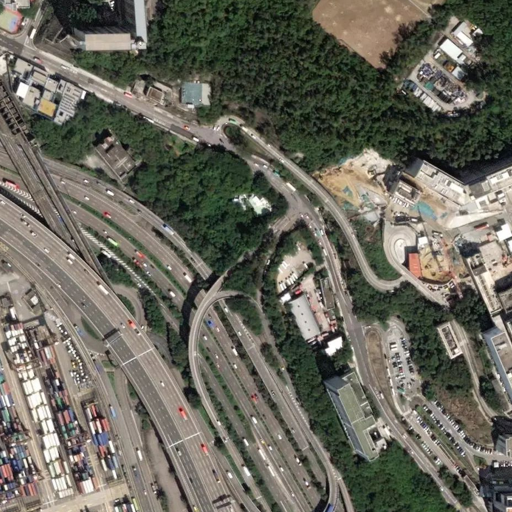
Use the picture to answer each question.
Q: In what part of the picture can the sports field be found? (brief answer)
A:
top right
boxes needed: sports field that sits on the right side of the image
[312,0,435,68]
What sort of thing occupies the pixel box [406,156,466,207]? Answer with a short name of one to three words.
building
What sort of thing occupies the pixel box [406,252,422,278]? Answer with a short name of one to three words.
shed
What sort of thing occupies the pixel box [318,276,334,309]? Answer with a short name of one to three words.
house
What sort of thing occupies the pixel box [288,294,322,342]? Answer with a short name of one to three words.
building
